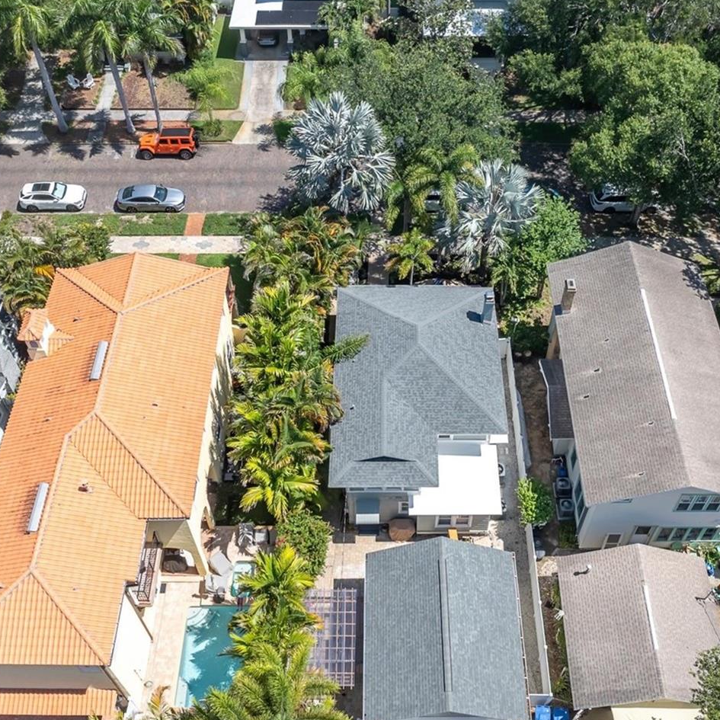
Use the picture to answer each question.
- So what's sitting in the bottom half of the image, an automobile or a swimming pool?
swimming pool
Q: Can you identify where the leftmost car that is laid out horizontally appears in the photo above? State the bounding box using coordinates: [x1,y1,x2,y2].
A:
[13,179,88,213]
